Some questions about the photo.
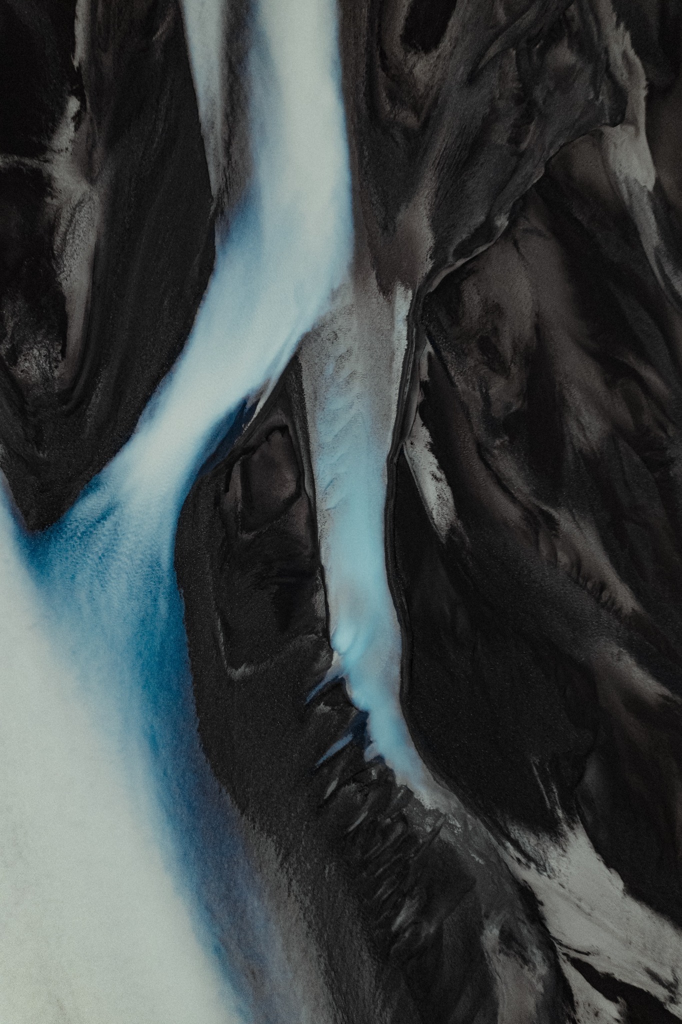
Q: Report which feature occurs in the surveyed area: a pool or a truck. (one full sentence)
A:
Visible in the photo is a pool.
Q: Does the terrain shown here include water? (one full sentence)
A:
Yes, water shows up in the scene.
